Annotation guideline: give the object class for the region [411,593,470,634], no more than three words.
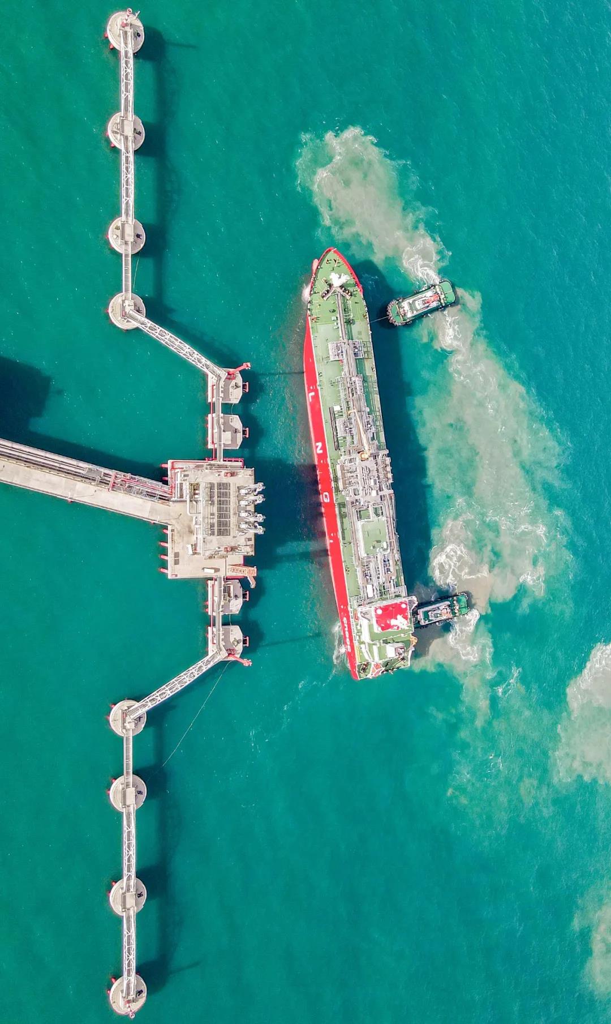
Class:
boat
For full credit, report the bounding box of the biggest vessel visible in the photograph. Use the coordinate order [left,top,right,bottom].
[303,245,419,679]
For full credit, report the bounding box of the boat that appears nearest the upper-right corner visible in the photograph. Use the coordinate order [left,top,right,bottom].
[387,279,456,328]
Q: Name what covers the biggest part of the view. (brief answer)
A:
water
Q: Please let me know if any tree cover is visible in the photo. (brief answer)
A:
No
